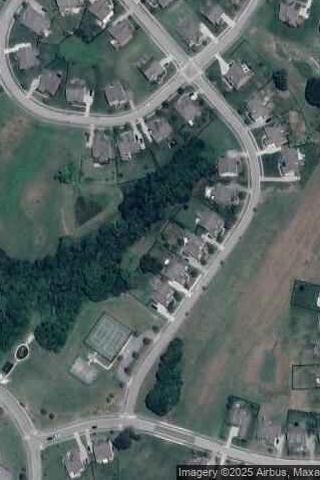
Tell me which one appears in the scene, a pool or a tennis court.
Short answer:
tennis court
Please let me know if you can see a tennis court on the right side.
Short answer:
No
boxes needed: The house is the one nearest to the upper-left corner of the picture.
[22,8,51,36]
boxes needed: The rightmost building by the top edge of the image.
[279,2,307,27]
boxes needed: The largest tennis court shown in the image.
[83,312,133,361]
